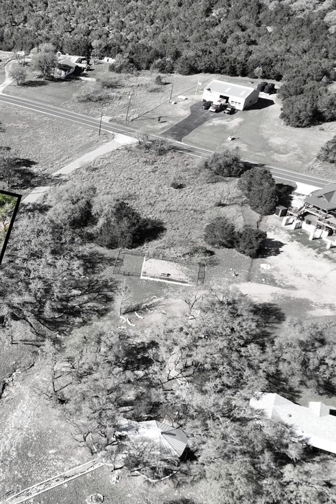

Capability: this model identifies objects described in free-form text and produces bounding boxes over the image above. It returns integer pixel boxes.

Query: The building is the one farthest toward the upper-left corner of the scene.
[52,50,94,79]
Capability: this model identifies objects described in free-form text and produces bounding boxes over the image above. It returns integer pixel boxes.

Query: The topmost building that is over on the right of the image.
[202,83,258,111]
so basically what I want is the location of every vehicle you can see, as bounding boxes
[223,106,236,115]
[209,97,228,112]
[201,99,212,108]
